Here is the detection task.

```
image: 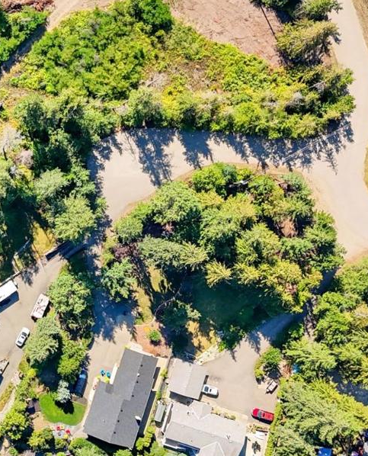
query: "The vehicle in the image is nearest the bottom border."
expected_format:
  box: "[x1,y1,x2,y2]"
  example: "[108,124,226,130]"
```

[249,408,273,421]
